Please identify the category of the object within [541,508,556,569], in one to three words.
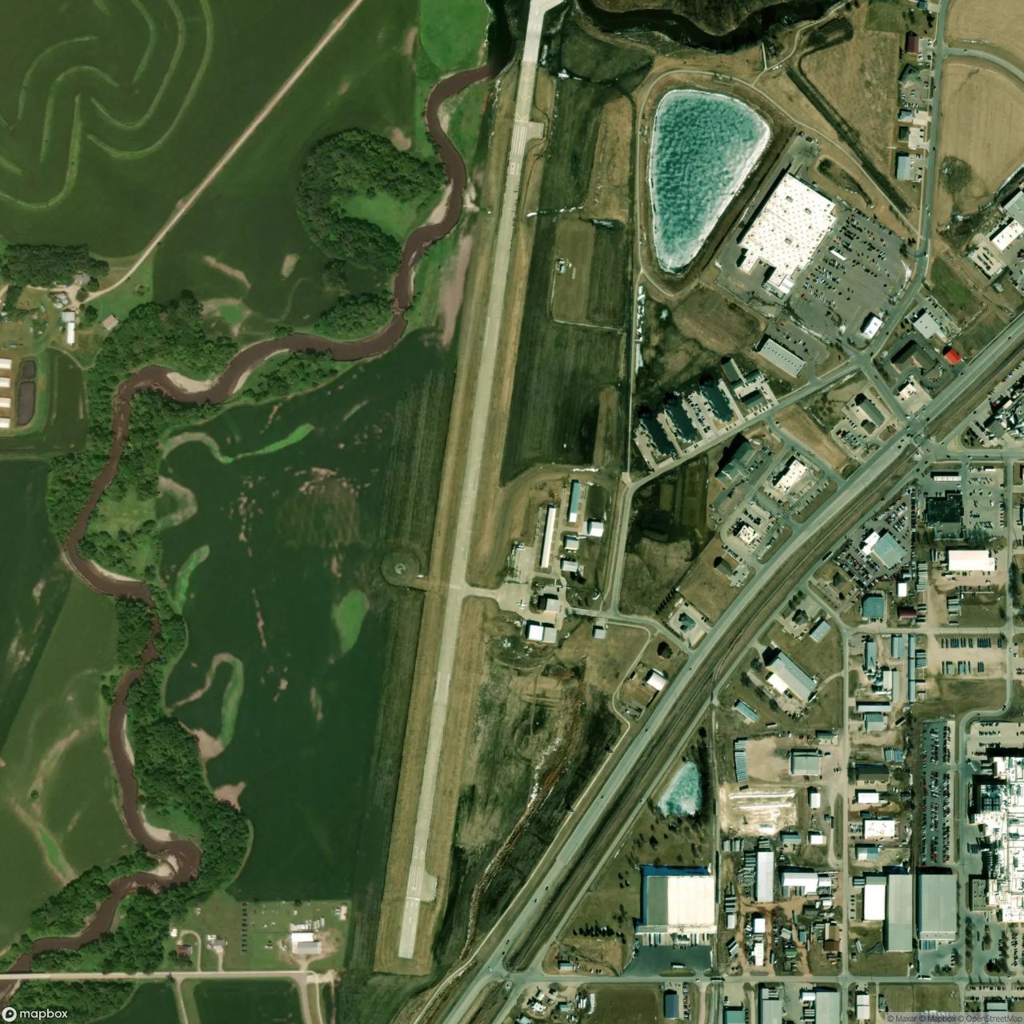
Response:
hangar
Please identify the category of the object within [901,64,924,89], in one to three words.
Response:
house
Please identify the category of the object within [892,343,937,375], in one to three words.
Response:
building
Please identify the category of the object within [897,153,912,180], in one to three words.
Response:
building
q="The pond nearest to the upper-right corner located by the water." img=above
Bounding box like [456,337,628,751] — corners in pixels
[649,89,770,273]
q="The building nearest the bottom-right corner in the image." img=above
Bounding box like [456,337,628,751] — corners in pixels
[986,1002,1008,1021]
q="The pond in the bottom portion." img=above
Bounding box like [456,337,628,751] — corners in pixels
[657,760,702,816]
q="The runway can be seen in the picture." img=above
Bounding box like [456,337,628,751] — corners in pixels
[399,0,546,959]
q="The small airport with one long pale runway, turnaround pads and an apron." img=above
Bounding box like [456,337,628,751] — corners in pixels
[399,0,606,959]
